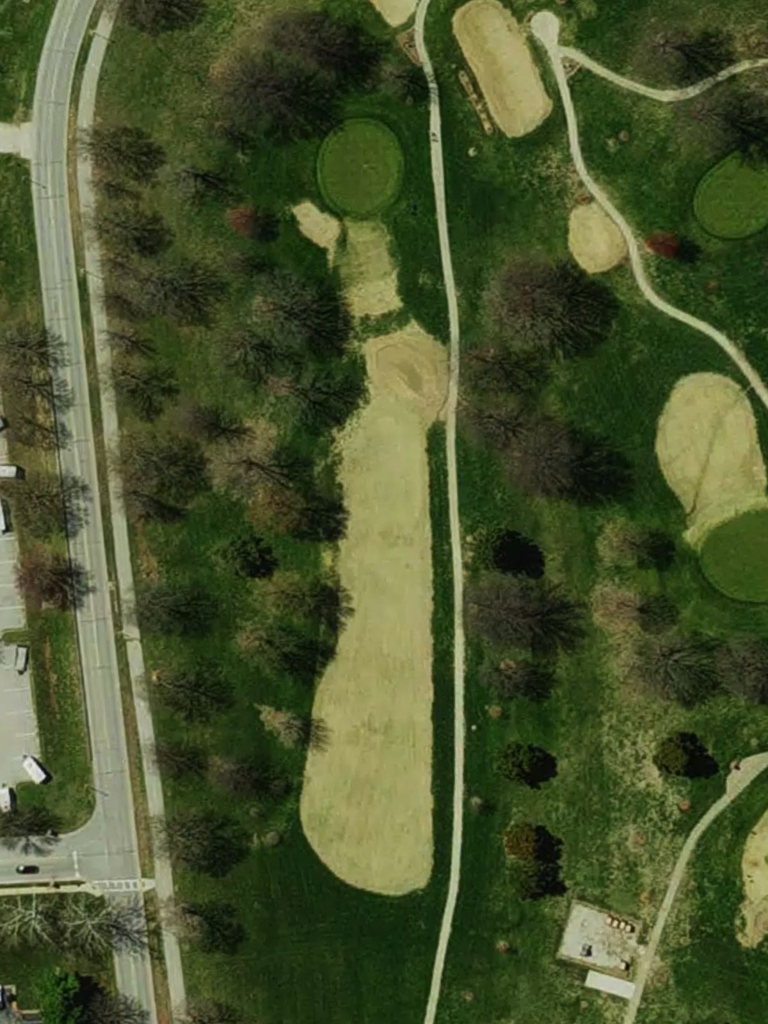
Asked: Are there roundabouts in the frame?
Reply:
No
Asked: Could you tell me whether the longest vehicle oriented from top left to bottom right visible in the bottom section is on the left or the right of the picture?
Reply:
left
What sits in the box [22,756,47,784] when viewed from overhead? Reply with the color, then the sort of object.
white vehicle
